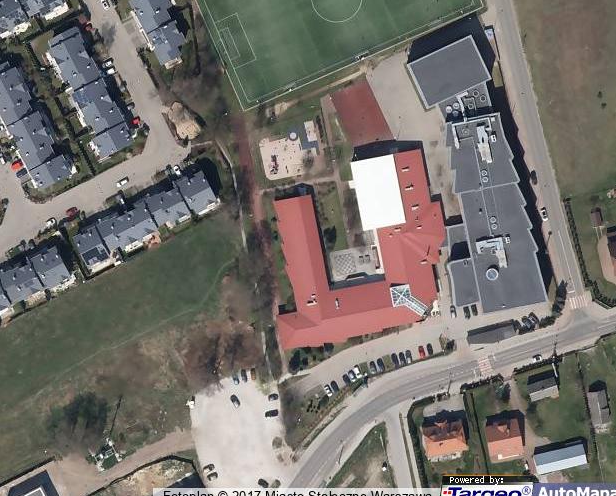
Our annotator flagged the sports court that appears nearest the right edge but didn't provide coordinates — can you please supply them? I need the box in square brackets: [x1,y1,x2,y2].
[331,80,396,158]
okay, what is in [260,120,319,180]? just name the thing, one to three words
playground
